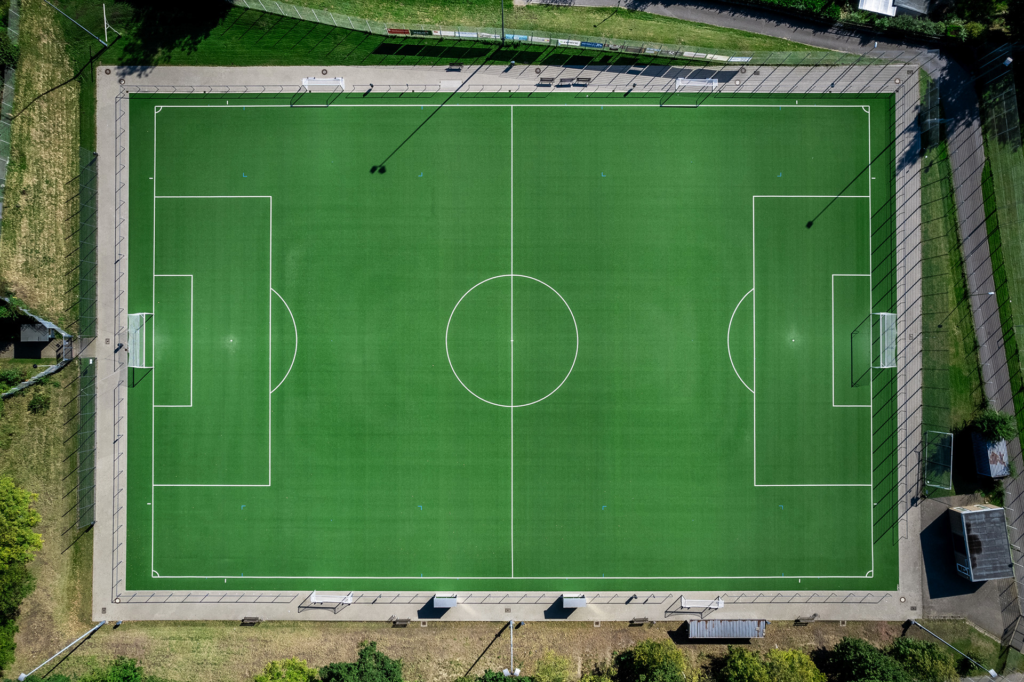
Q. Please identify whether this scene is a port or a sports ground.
sports ground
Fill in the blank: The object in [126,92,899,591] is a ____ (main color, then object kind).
green soccer field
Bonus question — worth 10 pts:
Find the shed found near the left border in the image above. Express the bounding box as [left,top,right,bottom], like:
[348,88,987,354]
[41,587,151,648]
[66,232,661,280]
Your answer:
[21,324,59,342]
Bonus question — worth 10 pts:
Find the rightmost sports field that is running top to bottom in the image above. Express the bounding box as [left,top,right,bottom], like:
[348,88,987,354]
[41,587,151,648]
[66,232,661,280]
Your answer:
[980,50,1024,378]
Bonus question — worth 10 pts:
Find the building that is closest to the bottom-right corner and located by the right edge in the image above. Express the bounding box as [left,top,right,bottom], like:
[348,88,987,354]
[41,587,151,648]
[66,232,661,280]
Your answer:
[948,505,1014,582]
